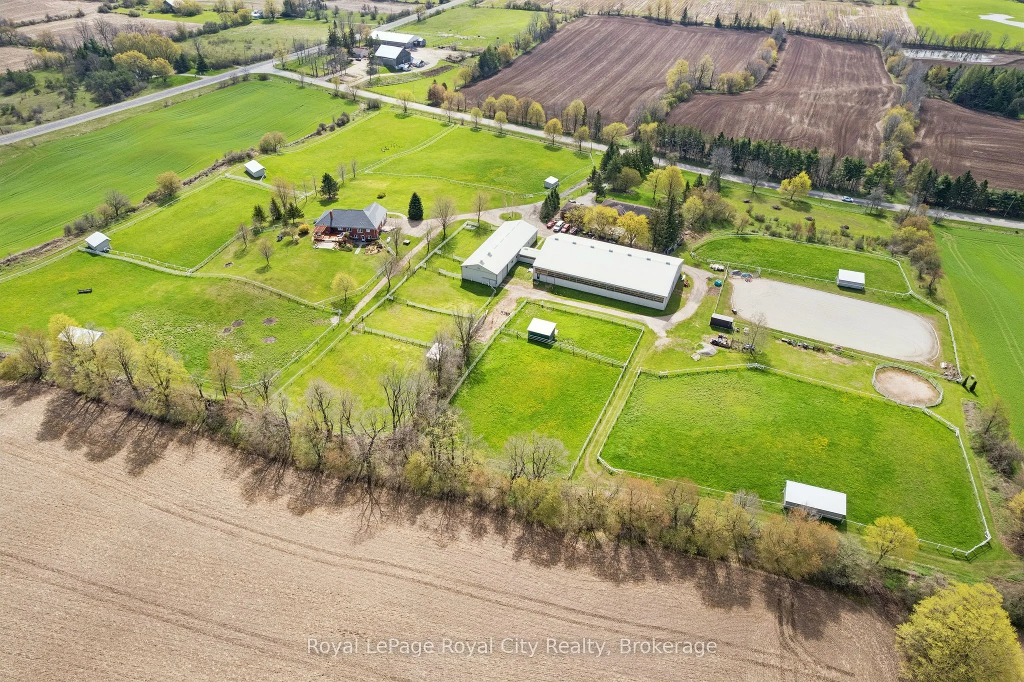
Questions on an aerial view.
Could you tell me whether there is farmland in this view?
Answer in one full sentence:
Yes, farmland can be seen from above here.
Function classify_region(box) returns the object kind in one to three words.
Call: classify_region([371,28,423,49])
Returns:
barn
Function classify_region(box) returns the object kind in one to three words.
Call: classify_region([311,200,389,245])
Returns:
house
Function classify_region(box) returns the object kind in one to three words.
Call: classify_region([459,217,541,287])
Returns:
barn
